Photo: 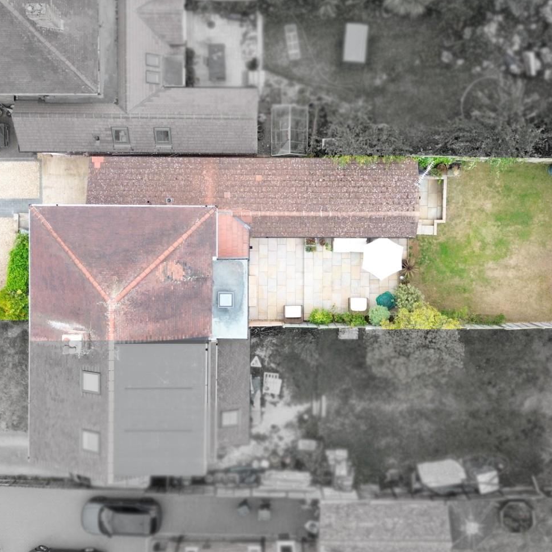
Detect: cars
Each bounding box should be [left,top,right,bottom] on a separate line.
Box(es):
[28,545,105,552]
[82,498,163,541]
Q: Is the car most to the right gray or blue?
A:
gray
